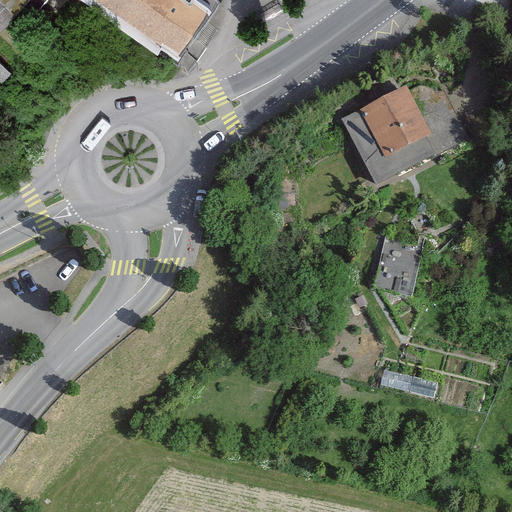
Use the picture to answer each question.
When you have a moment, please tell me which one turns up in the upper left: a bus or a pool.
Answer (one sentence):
Visible in the upper left is a bus.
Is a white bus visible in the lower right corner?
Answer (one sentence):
No, there is no white bus in the lower right corner.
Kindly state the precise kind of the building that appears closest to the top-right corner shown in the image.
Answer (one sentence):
The building that appears closest to the top-right corner appears to be a residential house.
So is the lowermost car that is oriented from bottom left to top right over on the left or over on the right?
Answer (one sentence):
The lowermost car that is oriented from bottom left to top right appears in the left half of the scene.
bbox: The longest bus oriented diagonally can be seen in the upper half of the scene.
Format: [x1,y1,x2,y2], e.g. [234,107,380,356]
[81,117,115,152]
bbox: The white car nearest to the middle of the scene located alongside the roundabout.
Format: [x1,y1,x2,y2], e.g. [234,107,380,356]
[202,132,226,152]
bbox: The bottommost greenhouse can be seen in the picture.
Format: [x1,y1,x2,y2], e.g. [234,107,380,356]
[380,368,438,398]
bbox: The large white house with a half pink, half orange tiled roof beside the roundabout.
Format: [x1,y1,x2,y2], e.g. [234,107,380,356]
[84,0,213,61]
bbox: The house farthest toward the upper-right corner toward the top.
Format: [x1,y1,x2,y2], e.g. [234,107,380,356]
[342,85,436,182]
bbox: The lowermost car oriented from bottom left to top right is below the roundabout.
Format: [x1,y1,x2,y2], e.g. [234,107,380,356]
[58,258,78,282]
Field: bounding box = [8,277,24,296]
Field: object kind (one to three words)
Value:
car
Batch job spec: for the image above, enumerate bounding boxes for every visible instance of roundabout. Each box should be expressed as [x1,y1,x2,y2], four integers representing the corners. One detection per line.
[55,84,205,234]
